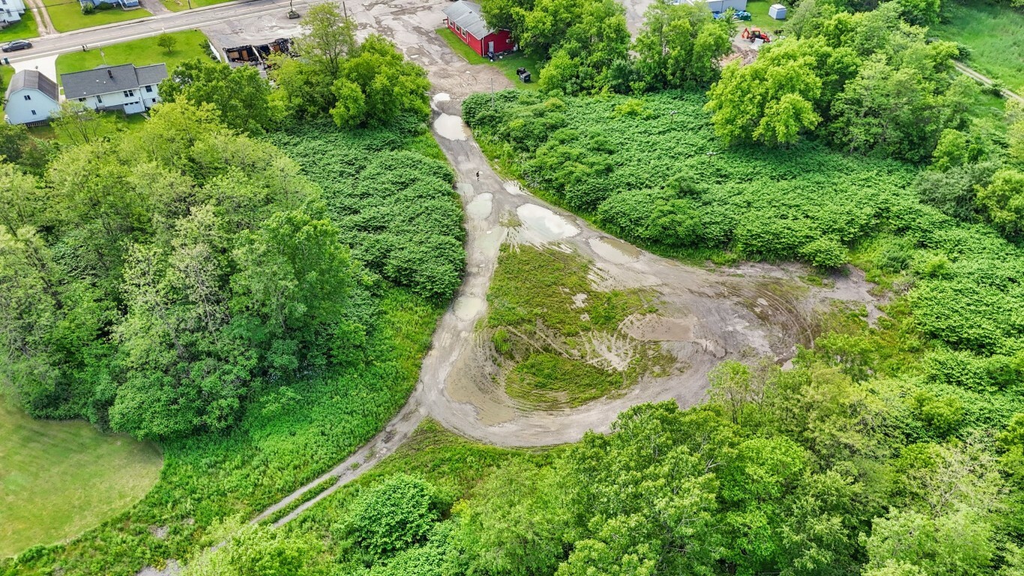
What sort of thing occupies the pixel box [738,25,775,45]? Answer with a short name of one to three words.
work vehicle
